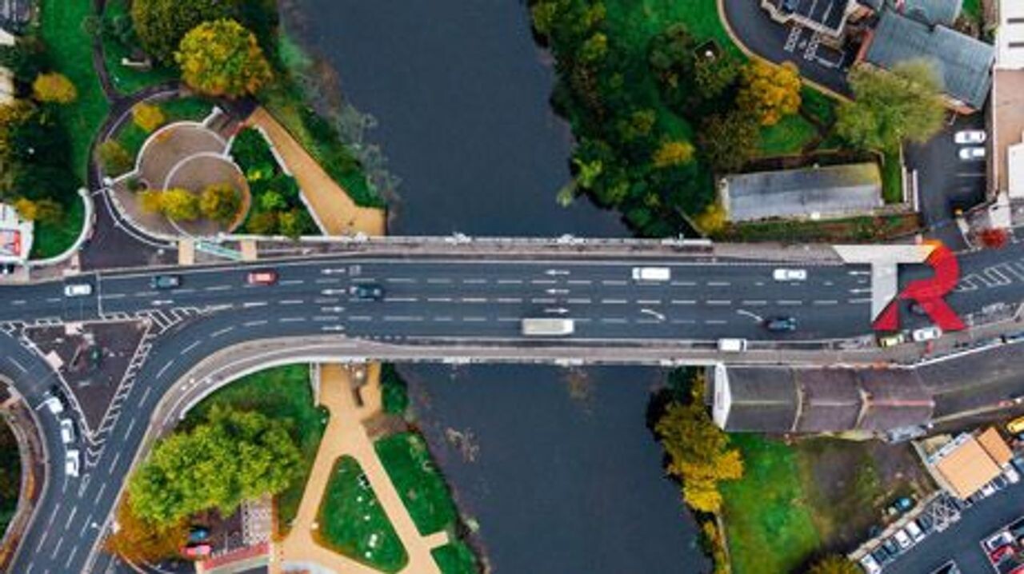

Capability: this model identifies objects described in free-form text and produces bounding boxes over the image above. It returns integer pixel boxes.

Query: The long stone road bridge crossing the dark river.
[340,231,730,369]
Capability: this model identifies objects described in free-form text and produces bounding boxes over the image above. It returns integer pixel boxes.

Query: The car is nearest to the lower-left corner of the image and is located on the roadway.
[66,447,83,477]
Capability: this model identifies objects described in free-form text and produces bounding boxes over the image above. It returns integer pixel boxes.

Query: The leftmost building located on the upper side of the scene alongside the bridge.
[719,162,890,224]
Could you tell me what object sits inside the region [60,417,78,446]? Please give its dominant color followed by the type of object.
white car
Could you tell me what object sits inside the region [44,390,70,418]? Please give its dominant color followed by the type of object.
white vehicle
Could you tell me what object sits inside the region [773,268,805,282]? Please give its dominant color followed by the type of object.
white car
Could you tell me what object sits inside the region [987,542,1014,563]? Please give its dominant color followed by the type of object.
red car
